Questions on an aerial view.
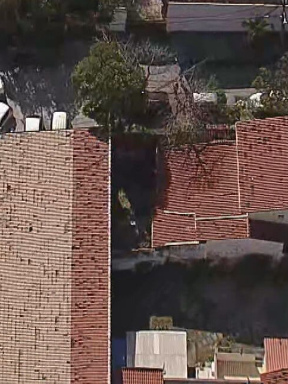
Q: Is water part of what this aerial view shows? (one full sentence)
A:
No, there's no water in this view.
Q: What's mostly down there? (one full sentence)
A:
The largest share of the image is taken up by buildings.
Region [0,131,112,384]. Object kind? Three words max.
warehouse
